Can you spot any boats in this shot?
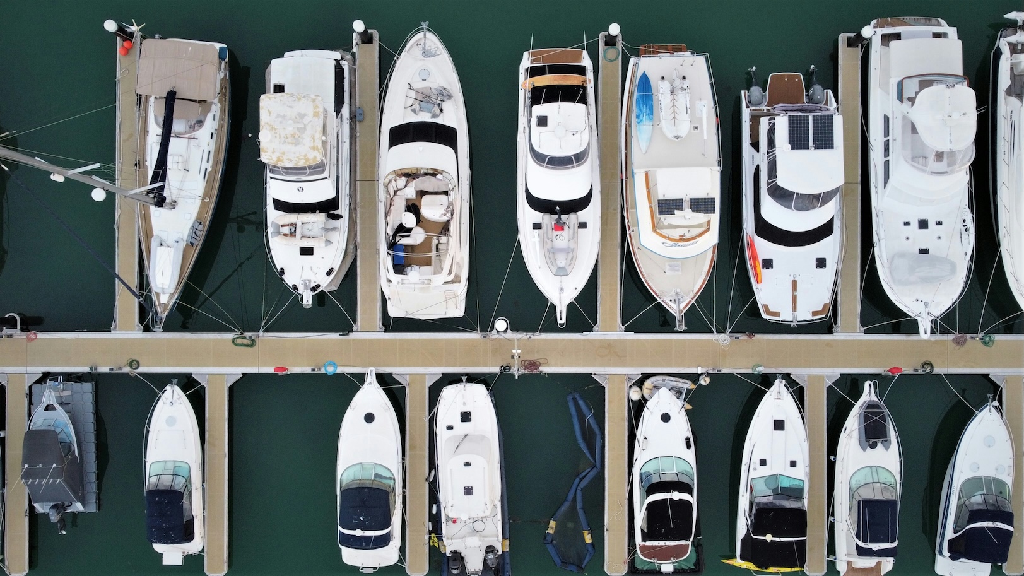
Yes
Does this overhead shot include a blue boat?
Yes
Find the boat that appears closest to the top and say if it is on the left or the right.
right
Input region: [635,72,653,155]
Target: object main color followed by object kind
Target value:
blue boat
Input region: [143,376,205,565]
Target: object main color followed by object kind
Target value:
white boat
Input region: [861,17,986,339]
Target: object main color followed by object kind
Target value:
white boat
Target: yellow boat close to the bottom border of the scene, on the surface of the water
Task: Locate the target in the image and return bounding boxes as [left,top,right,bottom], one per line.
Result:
[719,556,802,572]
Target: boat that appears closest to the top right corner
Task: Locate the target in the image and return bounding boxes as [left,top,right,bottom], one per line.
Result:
[1003,9,1024,51]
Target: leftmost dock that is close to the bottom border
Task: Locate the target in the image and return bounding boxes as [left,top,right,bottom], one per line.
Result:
[0,373,45,575]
